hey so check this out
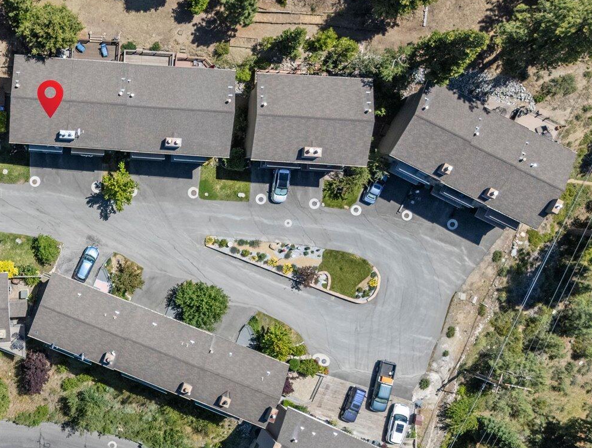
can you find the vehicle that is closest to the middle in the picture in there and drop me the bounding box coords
[272,170,289,204]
